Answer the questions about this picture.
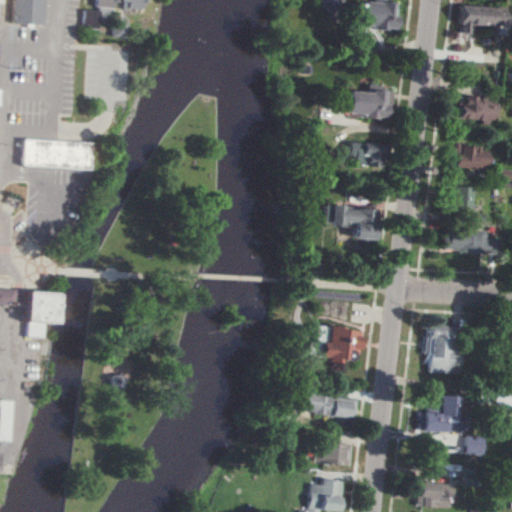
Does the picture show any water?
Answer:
Yes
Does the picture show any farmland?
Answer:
No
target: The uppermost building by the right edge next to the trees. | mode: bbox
[460,4,512,32]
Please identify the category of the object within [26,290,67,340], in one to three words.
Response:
building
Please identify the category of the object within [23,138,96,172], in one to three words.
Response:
building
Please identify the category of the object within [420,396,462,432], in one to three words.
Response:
house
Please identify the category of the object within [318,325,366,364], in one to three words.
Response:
house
